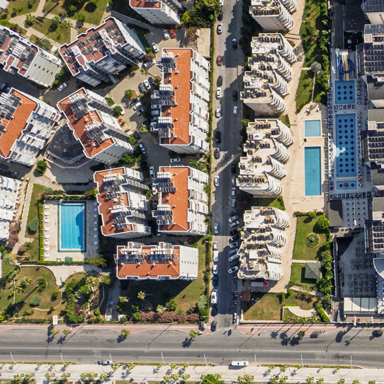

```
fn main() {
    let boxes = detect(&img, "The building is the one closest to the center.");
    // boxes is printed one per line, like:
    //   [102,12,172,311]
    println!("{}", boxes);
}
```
[155,167,209,235]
